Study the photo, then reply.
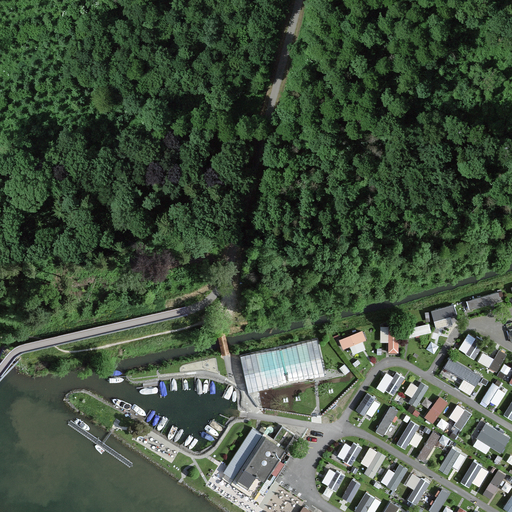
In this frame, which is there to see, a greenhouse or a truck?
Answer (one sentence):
I can see a greenhouse in this picture.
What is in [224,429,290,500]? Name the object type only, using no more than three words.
building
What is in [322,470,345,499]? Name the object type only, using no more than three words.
house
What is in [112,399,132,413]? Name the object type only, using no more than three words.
boat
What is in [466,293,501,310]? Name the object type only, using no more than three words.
shed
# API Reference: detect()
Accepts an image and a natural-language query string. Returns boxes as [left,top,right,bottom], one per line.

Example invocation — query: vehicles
[310,430,324,437]
[307,436,318,442]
